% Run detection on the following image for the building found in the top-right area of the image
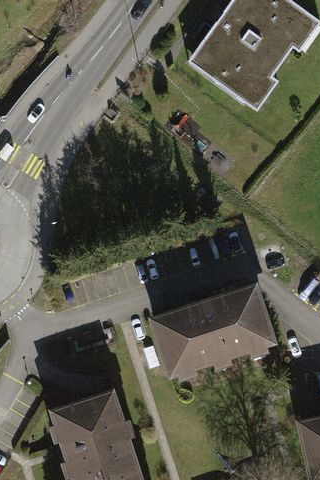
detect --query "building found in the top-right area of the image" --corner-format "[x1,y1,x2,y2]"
[189,0,320,114]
